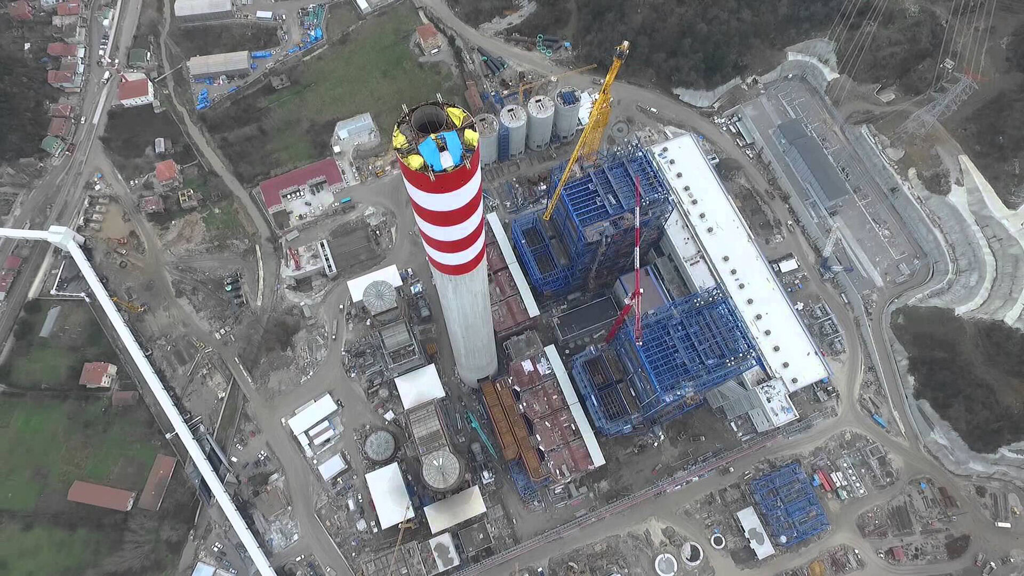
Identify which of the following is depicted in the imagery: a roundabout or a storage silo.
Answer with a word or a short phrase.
storage silo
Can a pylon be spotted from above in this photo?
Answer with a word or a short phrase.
Yes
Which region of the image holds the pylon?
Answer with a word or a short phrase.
top right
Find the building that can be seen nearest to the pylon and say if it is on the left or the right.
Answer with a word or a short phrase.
right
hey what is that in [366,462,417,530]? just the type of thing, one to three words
building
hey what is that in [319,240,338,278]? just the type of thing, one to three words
house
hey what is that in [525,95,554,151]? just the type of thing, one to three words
silo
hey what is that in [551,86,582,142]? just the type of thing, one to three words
silo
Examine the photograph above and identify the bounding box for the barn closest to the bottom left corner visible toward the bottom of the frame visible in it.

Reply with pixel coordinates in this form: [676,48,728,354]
[67,481,140,511]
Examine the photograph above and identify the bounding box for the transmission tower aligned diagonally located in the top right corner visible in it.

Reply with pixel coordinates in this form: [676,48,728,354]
[896,66,982,137]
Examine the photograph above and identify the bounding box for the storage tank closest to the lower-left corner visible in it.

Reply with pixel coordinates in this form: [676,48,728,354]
[363,429,399,464]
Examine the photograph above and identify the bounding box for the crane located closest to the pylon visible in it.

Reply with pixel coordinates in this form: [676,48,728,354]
[818,223,861,277]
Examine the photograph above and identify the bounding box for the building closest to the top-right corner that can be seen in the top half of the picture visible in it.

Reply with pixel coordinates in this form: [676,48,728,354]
[765,118,854,217]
